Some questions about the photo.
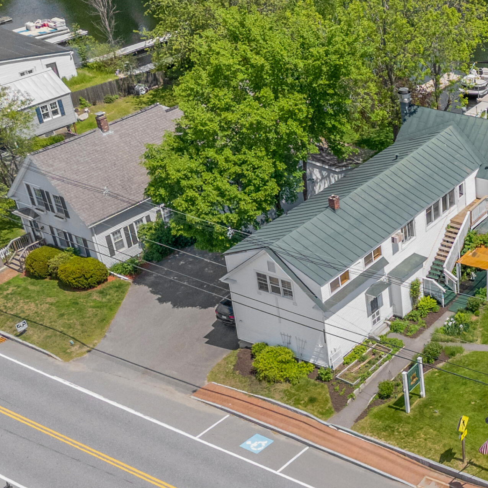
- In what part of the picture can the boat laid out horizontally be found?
top left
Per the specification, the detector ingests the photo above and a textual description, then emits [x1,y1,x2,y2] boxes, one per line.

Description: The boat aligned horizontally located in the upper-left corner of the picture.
[2,15,73,37]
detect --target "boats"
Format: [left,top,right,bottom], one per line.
[2,15,73,37]
[446,47,488,93]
